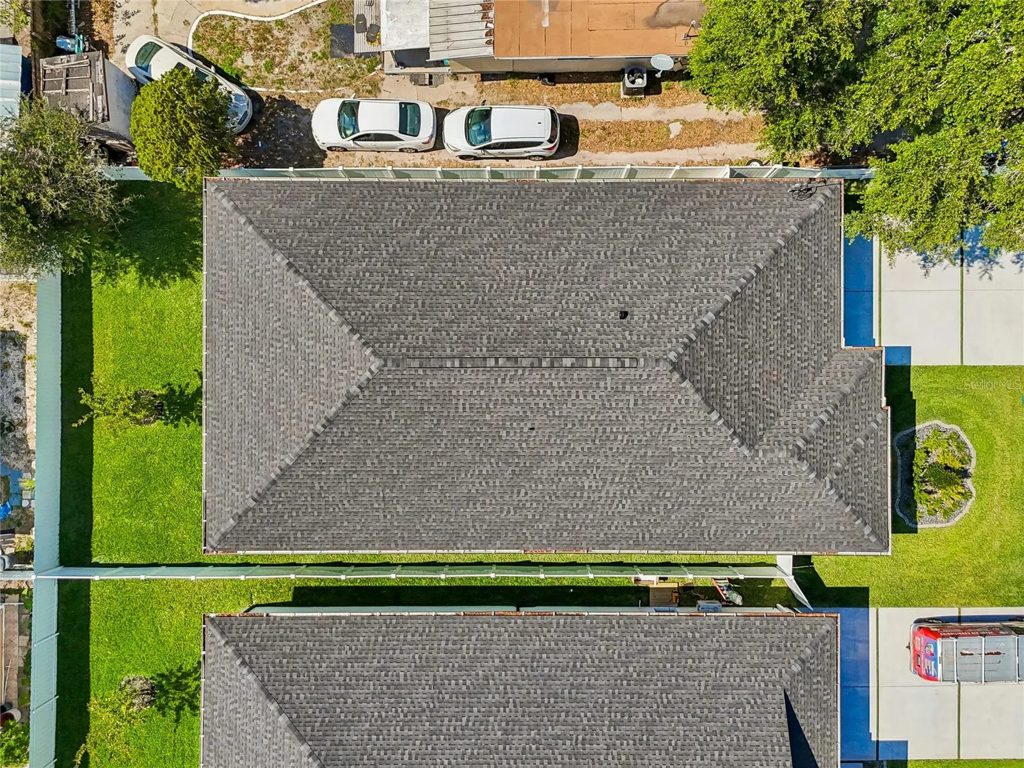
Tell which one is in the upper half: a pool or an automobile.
automobile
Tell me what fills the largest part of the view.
buildings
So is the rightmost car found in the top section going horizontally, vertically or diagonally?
horizontally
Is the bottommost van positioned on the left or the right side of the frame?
right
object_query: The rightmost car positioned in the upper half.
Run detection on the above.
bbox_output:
[444,101,561,160]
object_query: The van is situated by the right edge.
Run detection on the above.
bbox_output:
[900,619,1024,686]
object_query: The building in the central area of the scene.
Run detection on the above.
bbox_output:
[202,178,891,555]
